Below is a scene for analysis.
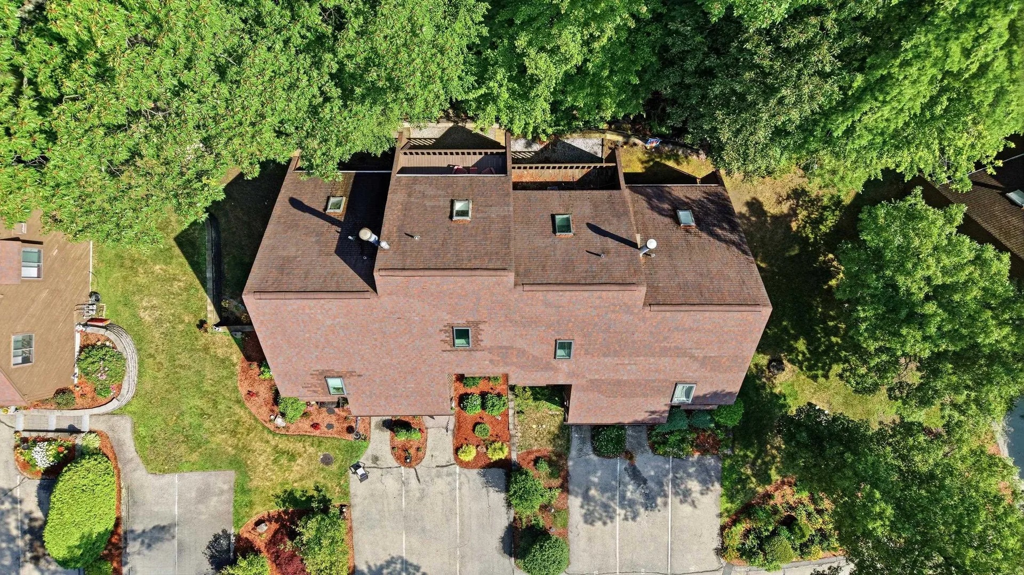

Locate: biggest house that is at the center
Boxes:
[242,131,770,426]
